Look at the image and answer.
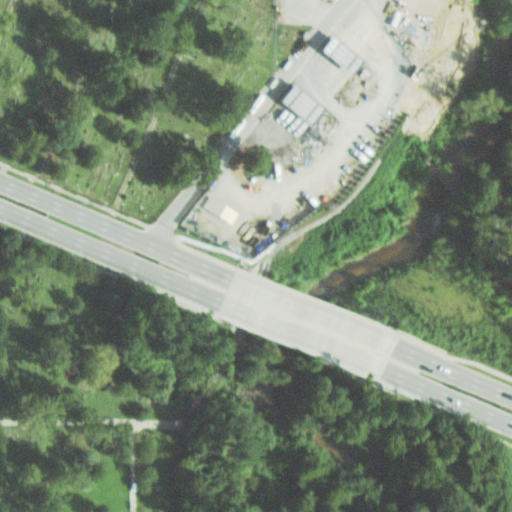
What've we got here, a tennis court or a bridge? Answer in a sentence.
The image shows a bridge.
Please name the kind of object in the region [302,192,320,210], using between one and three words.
vehicle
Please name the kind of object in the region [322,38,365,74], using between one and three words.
shed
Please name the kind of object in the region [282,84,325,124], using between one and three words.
shed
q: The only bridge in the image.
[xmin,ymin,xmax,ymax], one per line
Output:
[220,264,410,390]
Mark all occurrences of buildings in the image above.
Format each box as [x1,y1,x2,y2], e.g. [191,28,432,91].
[282,84,325,124]
[322,38,365,74]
